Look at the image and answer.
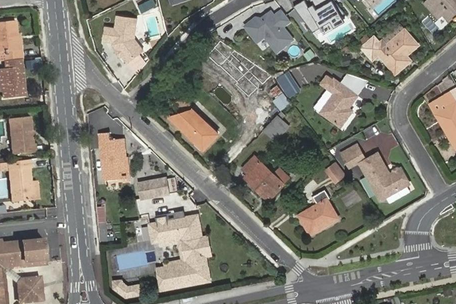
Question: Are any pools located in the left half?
Yes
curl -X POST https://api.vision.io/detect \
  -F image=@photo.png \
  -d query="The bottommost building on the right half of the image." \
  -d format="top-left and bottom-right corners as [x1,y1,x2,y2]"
[296,198,341,238]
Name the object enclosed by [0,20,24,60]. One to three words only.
house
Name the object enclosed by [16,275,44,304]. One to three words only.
building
